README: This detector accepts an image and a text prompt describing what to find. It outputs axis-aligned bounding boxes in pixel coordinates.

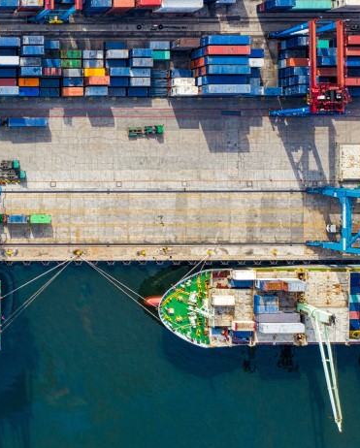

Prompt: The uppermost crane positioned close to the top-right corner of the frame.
[268,17,350,116]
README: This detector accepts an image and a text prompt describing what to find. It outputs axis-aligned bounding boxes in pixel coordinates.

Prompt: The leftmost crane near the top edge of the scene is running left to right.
[26,0,84,25]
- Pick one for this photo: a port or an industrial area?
port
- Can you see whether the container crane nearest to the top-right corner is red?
Yes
